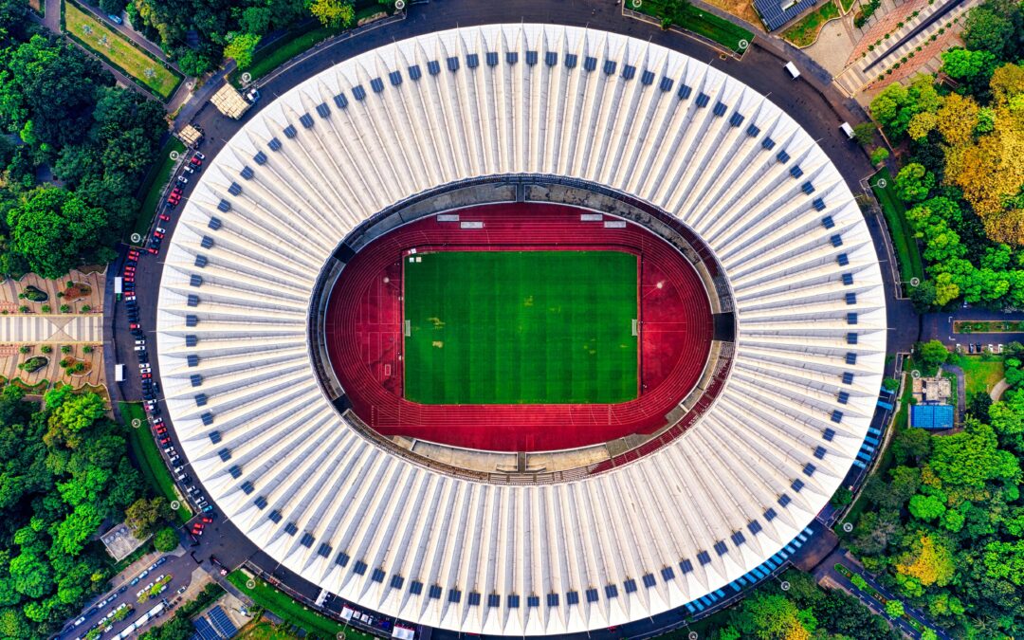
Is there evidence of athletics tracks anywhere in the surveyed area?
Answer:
Yes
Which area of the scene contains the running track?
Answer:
center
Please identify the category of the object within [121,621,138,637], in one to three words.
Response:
vehicle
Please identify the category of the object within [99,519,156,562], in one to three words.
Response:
building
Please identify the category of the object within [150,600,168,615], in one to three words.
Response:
vehicle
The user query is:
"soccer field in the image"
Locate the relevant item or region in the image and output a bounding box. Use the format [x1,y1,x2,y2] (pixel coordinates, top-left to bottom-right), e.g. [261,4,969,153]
[403,250,640,404]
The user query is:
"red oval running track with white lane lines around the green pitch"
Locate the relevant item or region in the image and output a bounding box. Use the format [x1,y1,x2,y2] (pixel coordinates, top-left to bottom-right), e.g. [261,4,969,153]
[326,201,712,453]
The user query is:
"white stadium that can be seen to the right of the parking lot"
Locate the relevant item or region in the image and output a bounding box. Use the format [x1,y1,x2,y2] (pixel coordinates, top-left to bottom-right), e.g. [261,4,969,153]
[156,17,887,640]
